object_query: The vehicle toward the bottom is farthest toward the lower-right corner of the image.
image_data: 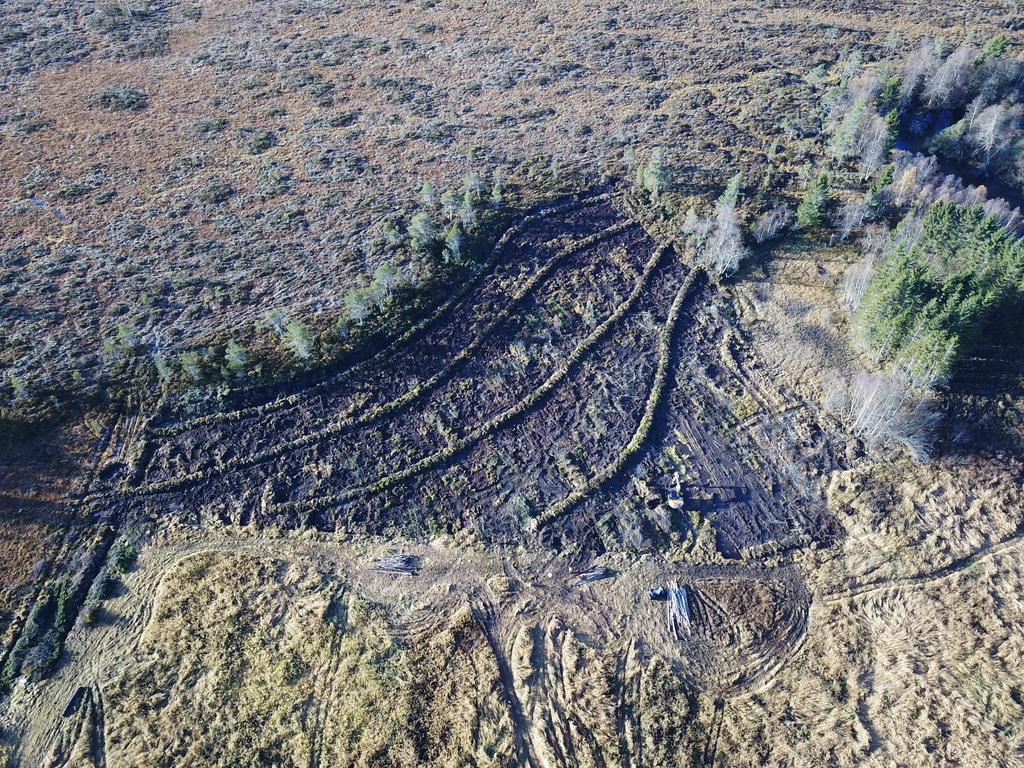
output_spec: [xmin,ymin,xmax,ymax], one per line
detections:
[644,587,667,604]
